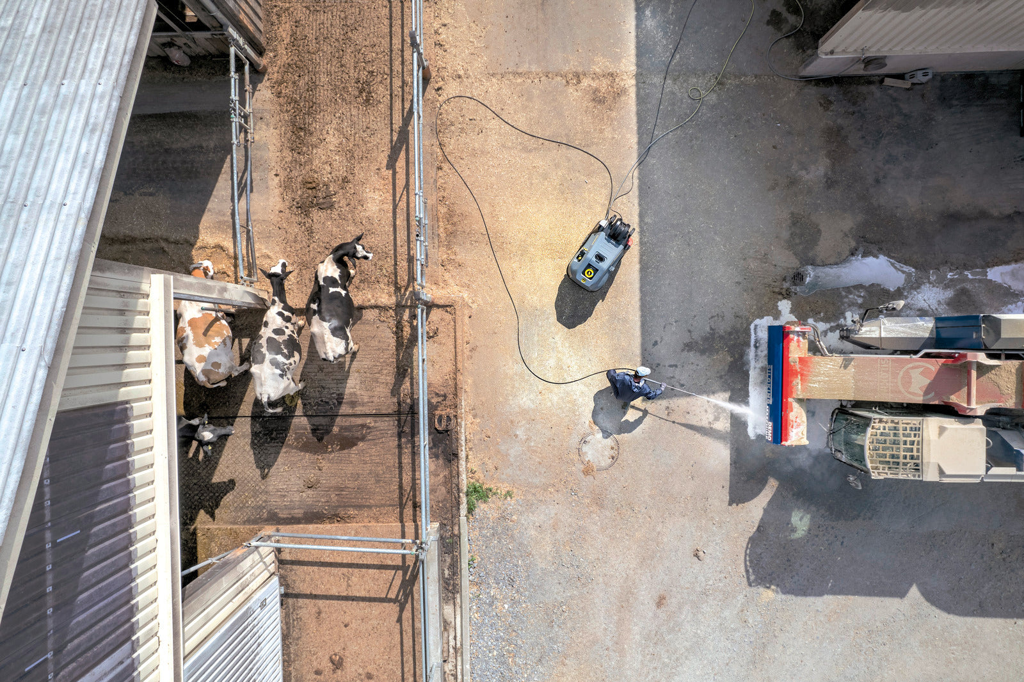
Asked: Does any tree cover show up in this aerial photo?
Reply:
No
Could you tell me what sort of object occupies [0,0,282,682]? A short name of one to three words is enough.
barn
